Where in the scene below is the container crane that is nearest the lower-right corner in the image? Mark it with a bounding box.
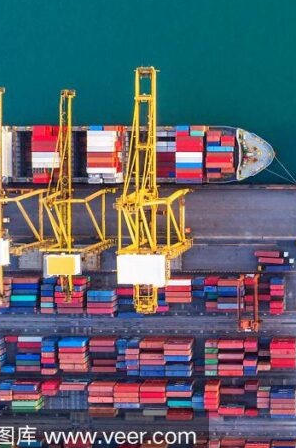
[239,273,264,337]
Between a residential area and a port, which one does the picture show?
port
